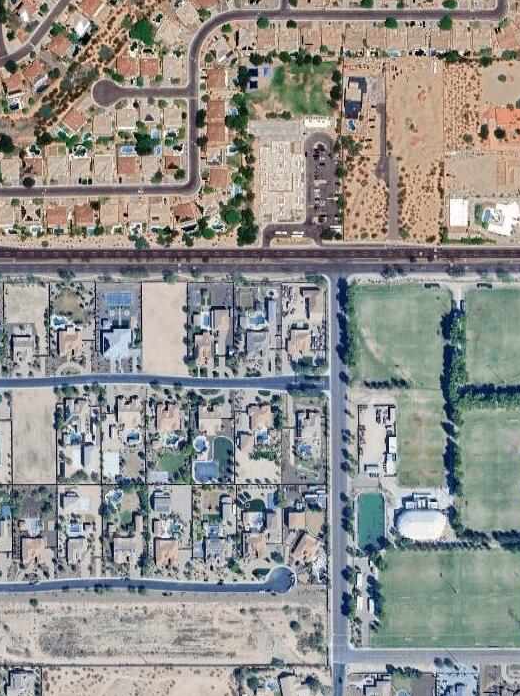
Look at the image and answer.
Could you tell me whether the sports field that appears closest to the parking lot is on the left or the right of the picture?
right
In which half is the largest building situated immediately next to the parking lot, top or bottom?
top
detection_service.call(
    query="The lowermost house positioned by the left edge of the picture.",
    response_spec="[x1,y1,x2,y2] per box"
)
[12,669,35,696]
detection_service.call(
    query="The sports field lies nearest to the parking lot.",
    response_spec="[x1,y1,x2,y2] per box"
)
[347,283,453,389]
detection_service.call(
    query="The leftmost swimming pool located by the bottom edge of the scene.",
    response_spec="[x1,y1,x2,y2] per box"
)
[262,676,280,690]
